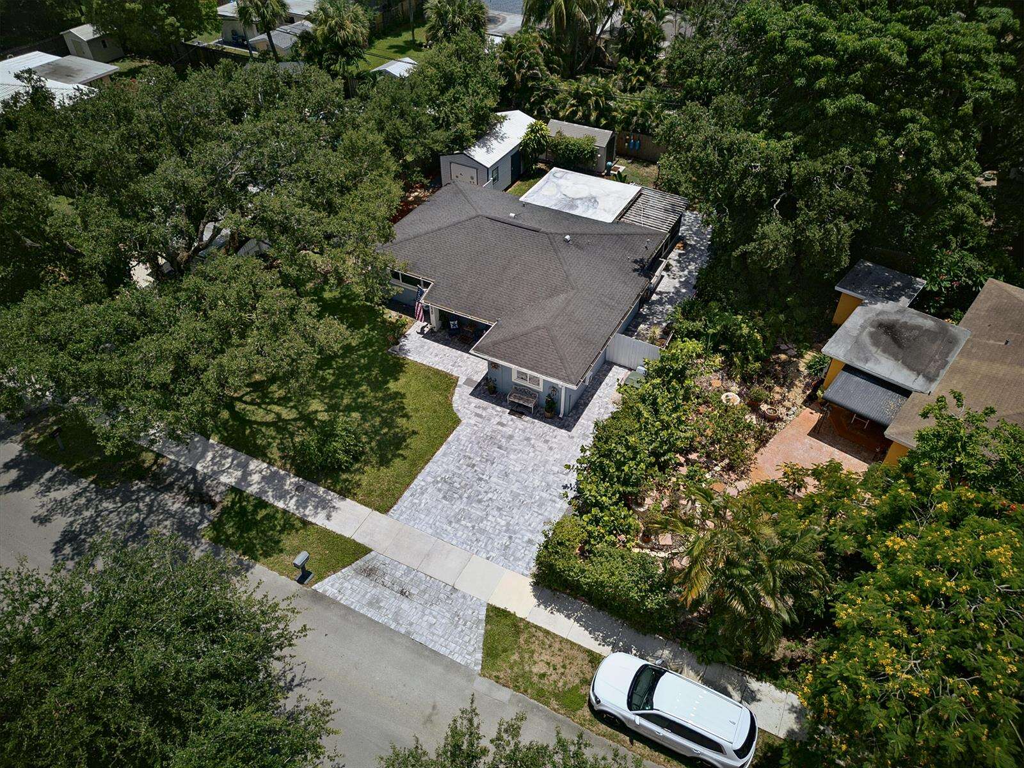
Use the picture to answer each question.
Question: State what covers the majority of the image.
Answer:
trees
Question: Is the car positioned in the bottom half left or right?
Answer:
right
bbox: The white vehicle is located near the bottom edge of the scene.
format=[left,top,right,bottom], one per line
[596,658,751,768]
